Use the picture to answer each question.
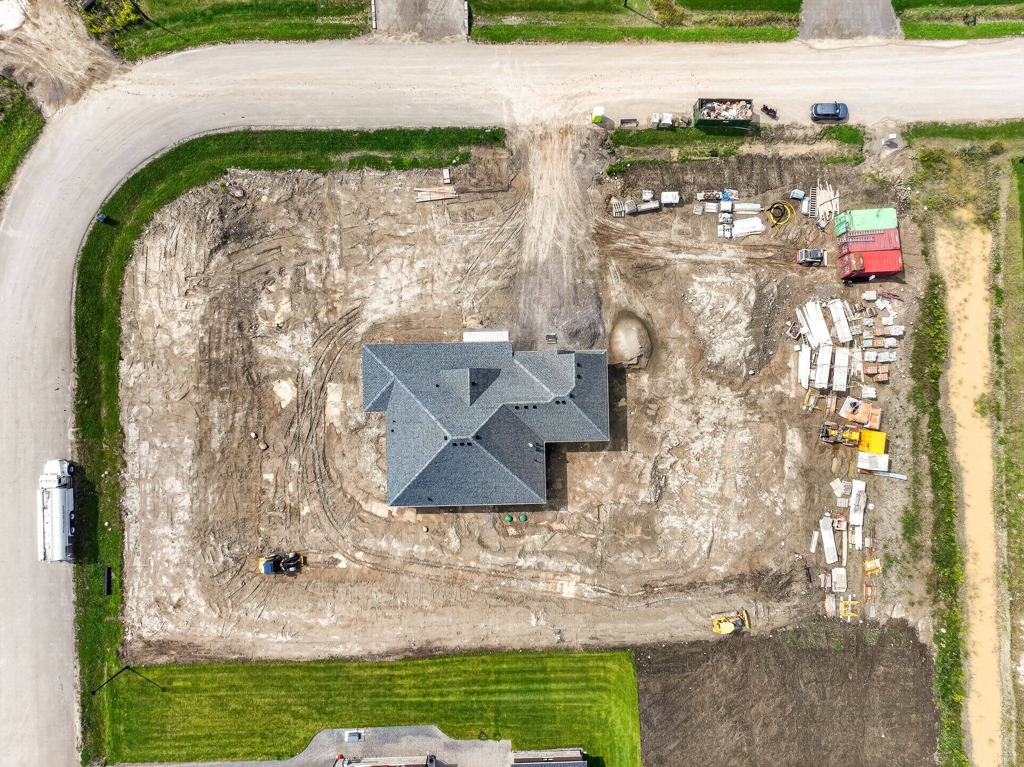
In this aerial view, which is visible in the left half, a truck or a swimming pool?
truck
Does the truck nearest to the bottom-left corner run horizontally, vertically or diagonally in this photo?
vertically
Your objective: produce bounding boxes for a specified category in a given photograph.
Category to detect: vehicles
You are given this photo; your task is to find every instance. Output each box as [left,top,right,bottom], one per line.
[38,458,73,562]
[808,422,863,447]
[257,551,303,575]
[713,606,749,636]
[808,101,847,121]
[760,105,778,119]
[795,250,826,267]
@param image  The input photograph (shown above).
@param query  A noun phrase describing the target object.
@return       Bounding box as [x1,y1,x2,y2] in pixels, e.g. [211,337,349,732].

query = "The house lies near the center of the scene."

[361,341,610,507]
